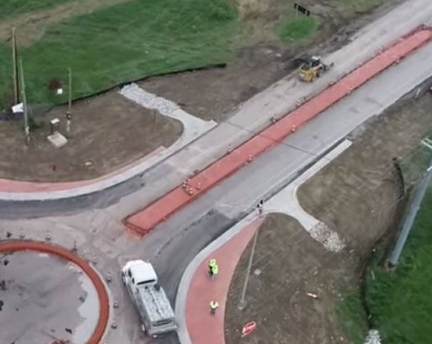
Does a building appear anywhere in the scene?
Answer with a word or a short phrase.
No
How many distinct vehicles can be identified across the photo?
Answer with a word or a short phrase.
2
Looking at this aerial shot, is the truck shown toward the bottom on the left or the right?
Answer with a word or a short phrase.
left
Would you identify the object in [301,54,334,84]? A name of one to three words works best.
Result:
work vehicle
